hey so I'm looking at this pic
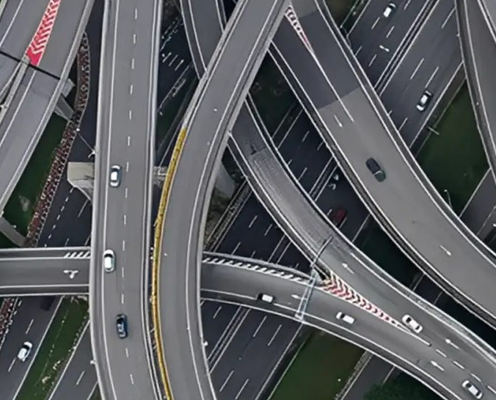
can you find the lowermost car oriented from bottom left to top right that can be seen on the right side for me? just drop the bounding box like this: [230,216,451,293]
[330,203,347,223]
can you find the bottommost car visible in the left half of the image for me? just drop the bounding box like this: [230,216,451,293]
[17,340,33,361]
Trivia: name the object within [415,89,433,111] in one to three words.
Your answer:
car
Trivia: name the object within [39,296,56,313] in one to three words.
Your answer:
car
